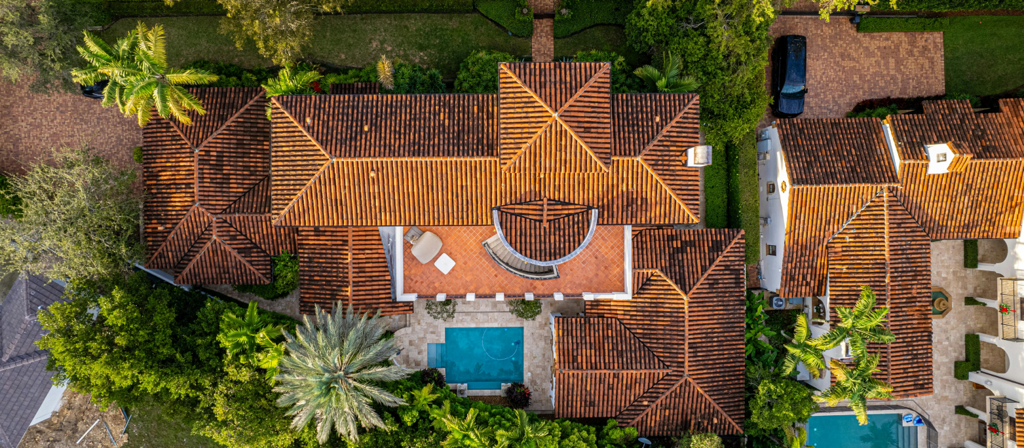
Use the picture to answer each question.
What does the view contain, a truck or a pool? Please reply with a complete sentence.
Of the two, only a pool appears.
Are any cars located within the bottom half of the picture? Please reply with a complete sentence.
No, no car appears within the bottom half of the picture.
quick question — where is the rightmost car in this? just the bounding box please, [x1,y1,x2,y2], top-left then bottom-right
[770,37,813,118]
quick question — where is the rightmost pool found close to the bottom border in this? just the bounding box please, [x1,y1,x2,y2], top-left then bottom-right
[799,404,919,448]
